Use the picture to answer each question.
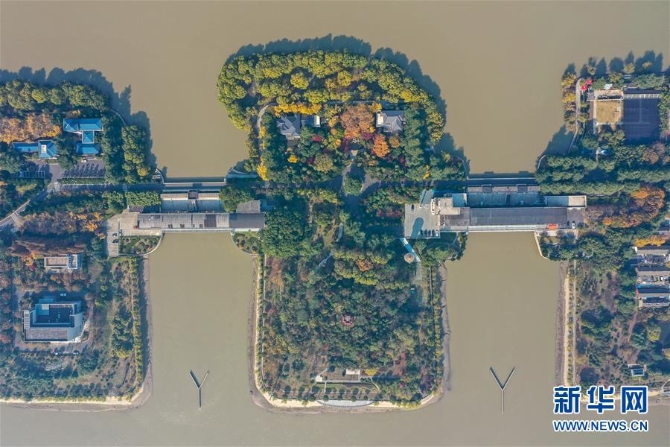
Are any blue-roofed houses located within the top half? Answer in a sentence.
Yes, a blue-roofed house can be seen within the top half.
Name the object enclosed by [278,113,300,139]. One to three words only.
house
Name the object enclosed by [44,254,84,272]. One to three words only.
building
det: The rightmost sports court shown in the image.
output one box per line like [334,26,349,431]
[620,86,662,141]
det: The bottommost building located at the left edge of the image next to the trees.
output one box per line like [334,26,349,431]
[24,298,86,342]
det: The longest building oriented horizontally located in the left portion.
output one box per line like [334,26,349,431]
[129,200,266,233]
